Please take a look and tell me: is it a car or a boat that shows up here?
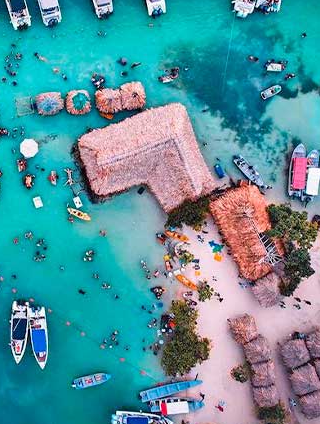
boat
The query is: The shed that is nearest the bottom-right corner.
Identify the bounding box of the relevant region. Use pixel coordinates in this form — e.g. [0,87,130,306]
[291,388,320,417]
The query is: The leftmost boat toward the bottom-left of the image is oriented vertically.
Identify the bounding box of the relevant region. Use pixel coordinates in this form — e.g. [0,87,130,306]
[11,302,29,364]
